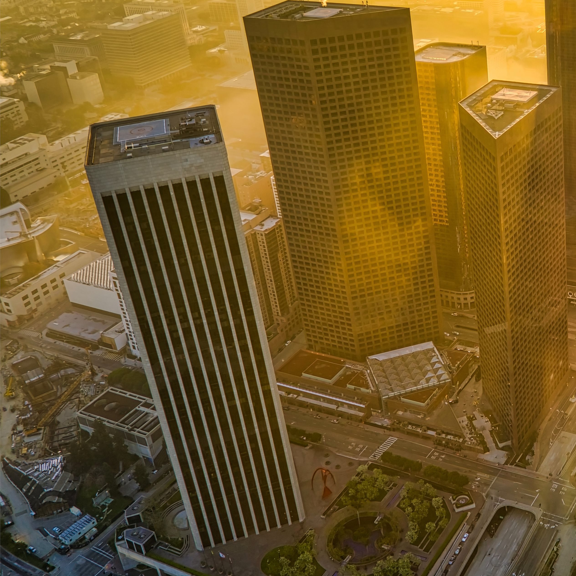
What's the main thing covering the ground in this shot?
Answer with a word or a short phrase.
buildings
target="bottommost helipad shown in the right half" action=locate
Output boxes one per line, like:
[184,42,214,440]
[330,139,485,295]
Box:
[492,89,537,104]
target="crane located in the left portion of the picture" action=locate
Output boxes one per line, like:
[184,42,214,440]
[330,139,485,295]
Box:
[24,361,100,438]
